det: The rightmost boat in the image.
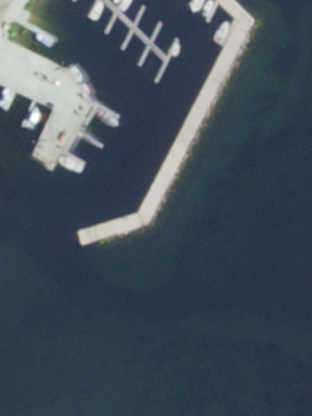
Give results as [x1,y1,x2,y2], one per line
[214,22,228,46]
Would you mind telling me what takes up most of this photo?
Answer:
water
